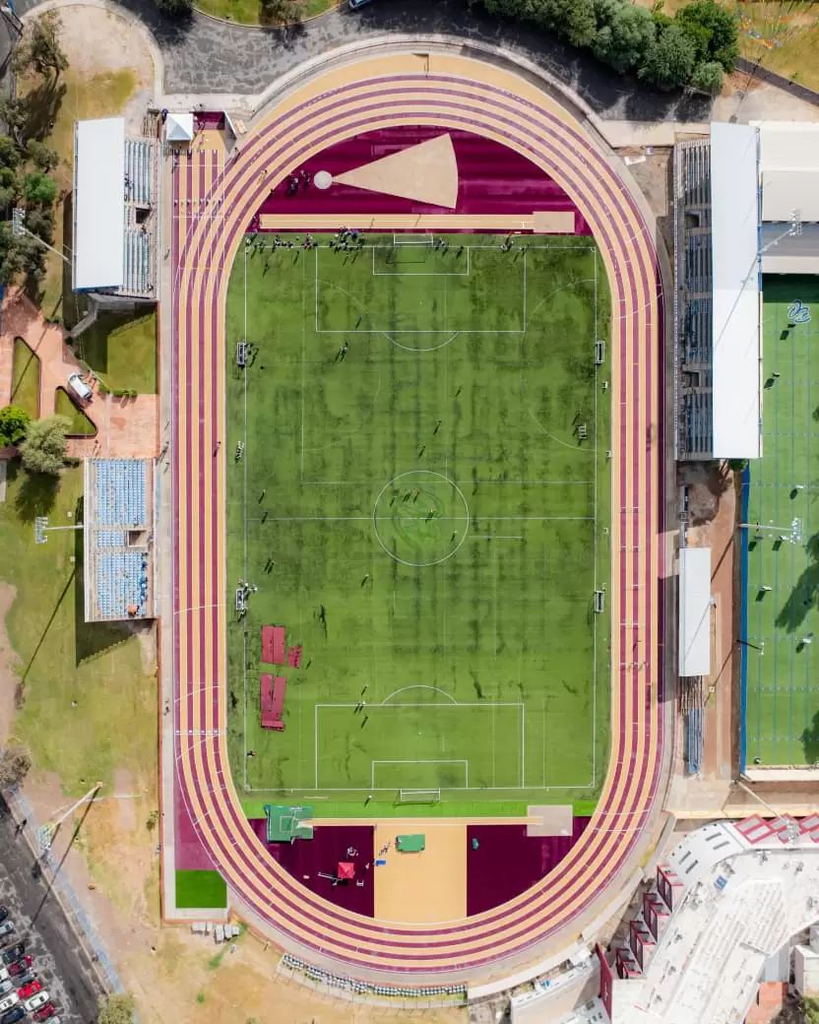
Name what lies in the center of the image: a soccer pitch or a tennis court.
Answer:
soccer pitch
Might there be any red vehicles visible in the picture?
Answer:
Yes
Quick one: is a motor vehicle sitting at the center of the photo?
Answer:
No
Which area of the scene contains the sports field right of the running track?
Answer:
right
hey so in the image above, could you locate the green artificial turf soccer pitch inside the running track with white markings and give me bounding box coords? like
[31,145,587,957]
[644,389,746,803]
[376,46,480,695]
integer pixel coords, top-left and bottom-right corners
[227,236,610,817]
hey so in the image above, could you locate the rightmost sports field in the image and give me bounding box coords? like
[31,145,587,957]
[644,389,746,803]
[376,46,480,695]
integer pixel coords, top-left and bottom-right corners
[740,279,819,774]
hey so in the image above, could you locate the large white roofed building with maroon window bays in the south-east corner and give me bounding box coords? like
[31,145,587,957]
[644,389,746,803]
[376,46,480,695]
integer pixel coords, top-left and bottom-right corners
[597,811,819,1024]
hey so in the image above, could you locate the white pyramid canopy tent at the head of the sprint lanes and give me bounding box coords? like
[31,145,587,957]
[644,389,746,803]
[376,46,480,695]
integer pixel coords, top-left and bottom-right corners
[165,110,194,142]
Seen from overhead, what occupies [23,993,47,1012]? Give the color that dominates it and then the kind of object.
white car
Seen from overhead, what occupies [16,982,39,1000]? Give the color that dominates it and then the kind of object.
red car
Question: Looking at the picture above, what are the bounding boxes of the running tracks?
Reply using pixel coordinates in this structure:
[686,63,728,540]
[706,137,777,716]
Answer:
[173,55,665,974]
